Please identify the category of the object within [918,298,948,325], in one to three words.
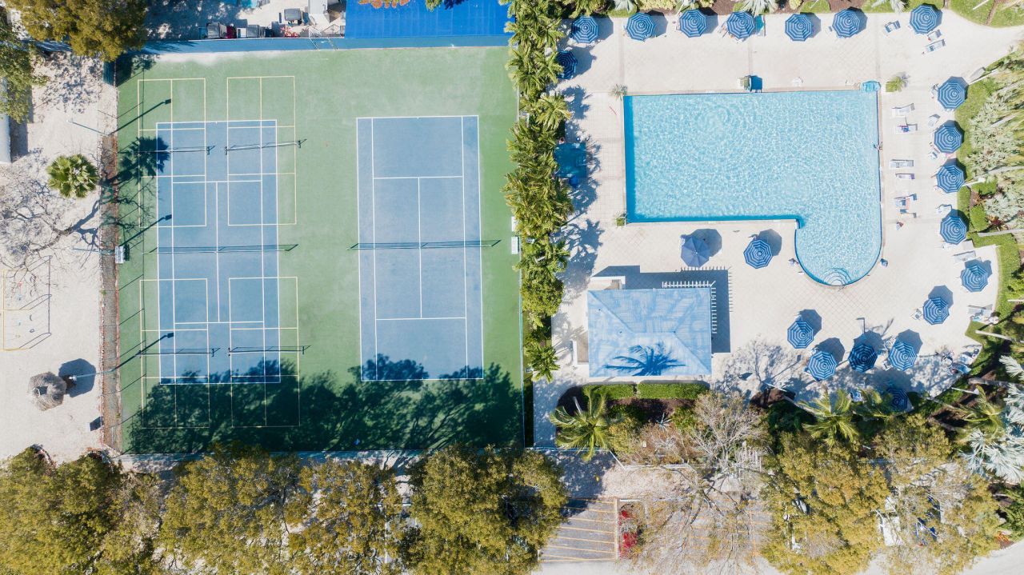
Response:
umbrella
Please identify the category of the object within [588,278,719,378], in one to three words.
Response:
building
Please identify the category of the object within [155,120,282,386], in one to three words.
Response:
tennis court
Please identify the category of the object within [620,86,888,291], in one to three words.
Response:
swimming pool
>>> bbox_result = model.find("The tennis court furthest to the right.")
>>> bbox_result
[357,116,483,381]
